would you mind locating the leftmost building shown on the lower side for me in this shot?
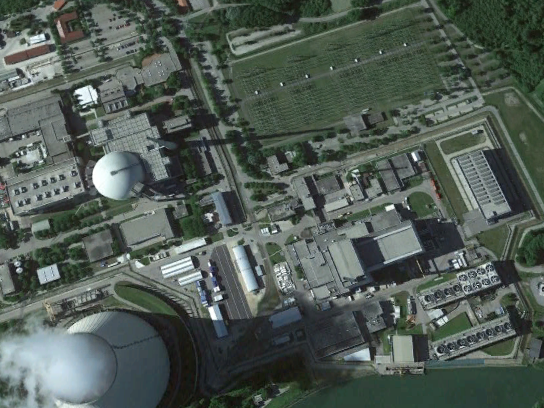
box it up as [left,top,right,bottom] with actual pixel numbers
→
[0,264,16,295]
